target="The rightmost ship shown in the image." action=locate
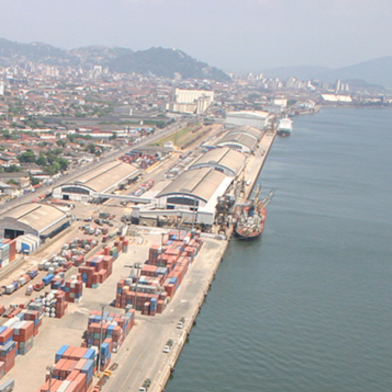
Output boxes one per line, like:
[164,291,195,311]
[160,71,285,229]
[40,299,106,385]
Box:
[278,107,293,136]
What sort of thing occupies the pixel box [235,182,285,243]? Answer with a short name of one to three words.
ship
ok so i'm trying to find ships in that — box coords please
[235,182,285,243]
[278,107,293,136]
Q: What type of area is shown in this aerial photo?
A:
port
